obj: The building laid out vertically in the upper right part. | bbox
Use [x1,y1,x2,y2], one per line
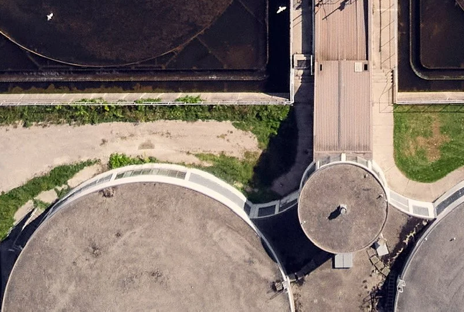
[313,0,372,159]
